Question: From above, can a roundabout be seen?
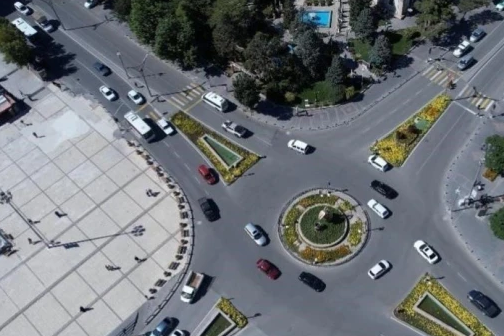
Yes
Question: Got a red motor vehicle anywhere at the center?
Yes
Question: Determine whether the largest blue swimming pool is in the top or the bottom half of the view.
top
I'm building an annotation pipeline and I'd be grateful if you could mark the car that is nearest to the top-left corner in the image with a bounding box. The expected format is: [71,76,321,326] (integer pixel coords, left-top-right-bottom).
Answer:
[12,1,31,16]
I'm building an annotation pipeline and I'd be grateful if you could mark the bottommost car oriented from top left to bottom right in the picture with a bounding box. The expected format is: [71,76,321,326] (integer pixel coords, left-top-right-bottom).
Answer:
[467,288,500,316]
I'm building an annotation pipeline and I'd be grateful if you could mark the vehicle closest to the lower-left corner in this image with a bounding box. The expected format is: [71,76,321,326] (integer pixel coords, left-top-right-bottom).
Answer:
[148,318,174,336]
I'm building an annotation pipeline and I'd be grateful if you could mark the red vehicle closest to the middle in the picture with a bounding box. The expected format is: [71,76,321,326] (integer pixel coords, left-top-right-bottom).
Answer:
[196,163,218,184]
